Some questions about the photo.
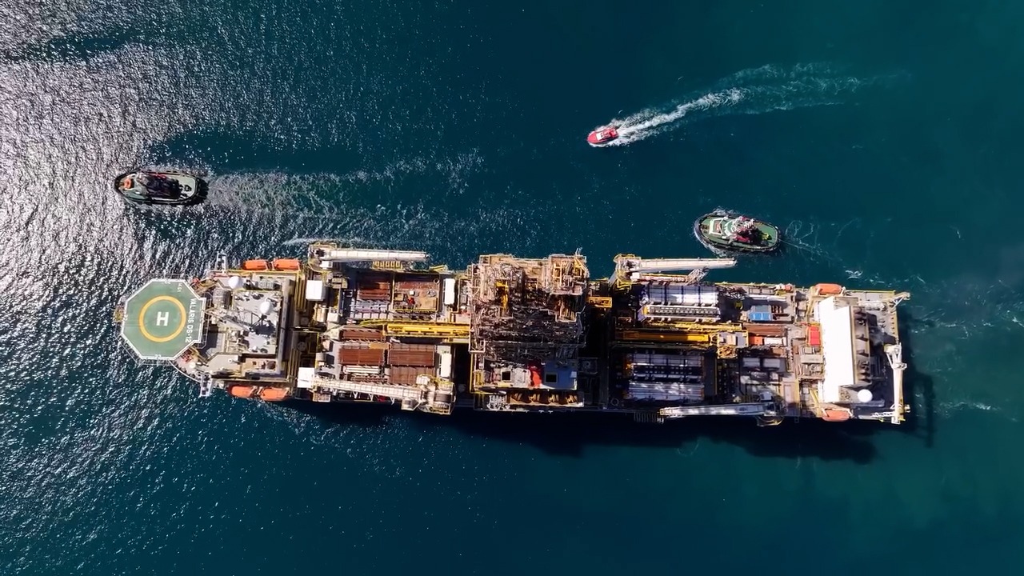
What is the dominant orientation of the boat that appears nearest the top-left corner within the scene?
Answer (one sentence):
The boat that appears nearest the top-left corner runs from side to side in the image.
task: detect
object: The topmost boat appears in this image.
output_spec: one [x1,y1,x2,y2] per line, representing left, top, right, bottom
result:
[589,126,619,144]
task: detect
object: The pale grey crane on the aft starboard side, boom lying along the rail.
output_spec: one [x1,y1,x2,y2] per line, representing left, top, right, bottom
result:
[655,391,798,427]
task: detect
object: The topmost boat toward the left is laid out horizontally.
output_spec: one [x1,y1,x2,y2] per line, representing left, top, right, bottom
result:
[113,169,207,207]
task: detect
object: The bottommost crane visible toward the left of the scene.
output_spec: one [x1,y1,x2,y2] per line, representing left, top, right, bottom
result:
[312,373,457,413]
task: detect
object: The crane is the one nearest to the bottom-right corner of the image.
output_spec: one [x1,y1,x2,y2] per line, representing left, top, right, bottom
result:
[872,336,911,423]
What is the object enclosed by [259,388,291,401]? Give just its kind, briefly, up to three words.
boat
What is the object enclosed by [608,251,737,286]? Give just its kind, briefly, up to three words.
crane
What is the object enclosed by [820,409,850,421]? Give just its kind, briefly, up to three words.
boat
